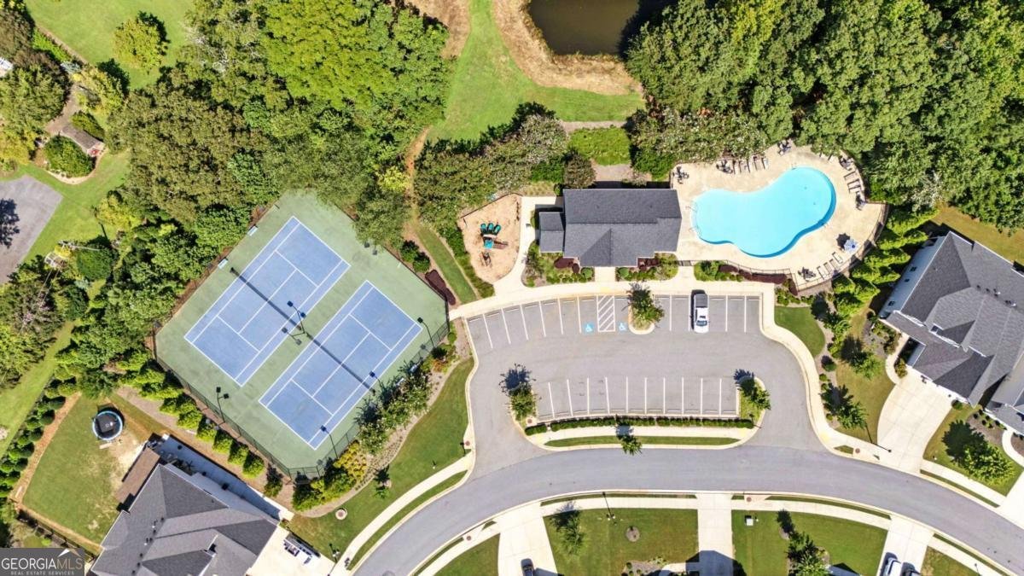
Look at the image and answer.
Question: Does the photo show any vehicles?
Yes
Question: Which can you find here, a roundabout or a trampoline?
trampoline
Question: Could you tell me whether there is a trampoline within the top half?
No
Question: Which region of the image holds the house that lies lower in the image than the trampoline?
bottom left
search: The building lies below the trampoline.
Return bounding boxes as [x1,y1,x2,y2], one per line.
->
[90,460,279,576]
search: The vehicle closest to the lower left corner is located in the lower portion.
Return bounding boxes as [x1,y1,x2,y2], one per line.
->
[281,537,323,568]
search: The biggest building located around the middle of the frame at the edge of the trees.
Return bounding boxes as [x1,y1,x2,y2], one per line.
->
[539,188,682,267]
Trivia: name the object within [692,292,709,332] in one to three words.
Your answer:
vehicle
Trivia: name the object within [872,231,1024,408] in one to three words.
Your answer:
house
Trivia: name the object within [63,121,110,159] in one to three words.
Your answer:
shed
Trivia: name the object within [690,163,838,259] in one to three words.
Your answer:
swimming pool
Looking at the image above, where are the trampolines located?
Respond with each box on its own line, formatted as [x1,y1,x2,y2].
[88,411,124,440]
